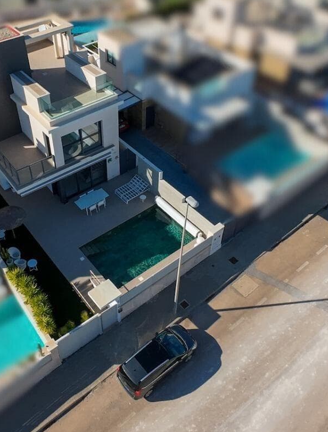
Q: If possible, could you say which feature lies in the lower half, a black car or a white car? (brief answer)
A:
black car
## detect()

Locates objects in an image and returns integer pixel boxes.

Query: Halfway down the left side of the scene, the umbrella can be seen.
[0,206,27,237]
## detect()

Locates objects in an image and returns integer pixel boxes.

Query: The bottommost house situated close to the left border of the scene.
[0,15,124,210]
